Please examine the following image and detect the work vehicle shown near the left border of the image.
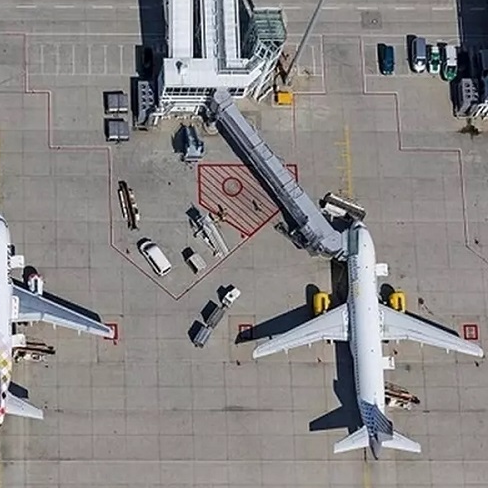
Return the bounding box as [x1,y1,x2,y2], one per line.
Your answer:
[16,345,56,369]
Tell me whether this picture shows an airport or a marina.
airport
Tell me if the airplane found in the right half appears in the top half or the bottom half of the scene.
bottom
